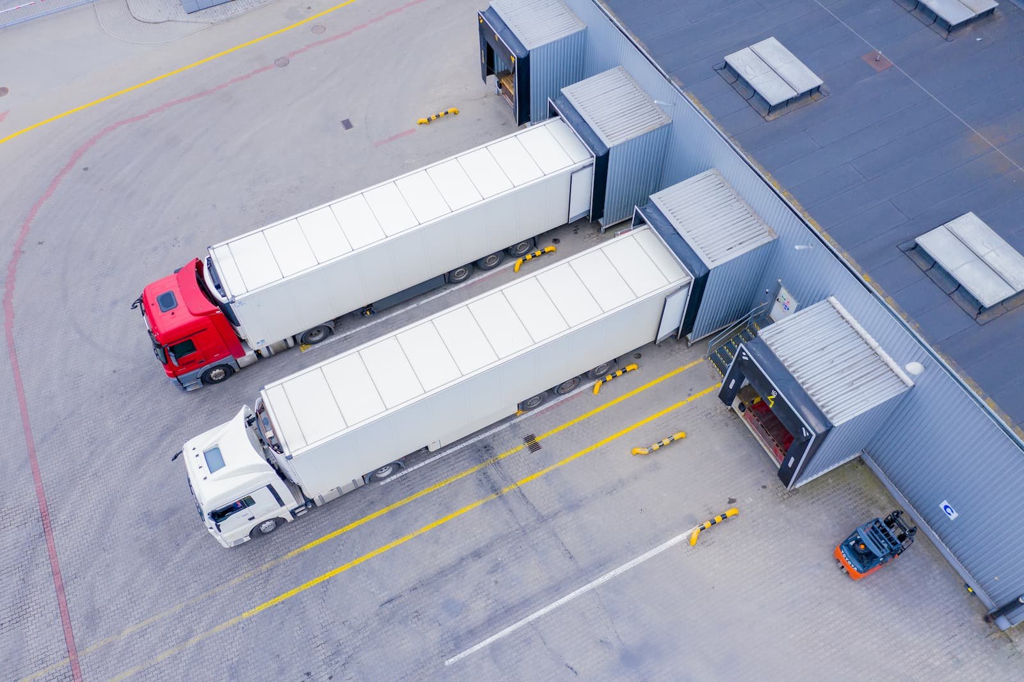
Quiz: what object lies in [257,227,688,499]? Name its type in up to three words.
trailer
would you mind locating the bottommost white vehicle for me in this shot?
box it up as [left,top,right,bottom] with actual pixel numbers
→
[175,407,400,547]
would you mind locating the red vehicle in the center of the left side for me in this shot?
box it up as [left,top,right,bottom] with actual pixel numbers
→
[134,257,333,390]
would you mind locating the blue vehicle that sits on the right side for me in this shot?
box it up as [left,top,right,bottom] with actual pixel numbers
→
[830,507,921,582]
